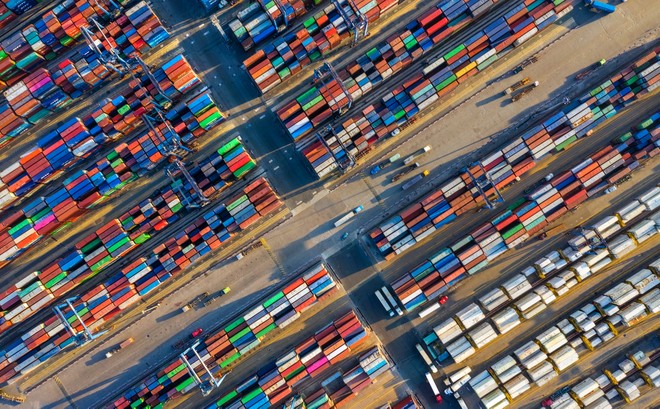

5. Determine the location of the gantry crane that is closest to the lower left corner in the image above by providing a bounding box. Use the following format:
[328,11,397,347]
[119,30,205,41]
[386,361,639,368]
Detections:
[53,290,111,346]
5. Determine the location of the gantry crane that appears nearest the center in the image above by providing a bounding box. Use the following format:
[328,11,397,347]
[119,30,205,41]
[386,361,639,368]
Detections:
[311,125,354,179]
